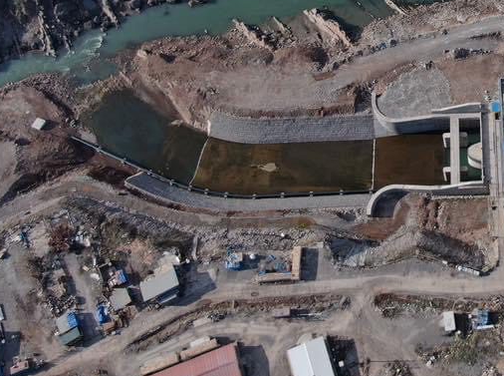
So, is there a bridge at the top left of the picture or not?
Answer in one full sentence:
No, I see no bridge at the top left of the picture.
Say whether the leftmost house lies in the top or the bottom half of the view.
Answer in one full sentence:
It is in the bottom half that the leftmost house appears.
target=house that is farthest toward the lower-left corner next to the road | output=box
[58,312,89,345]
